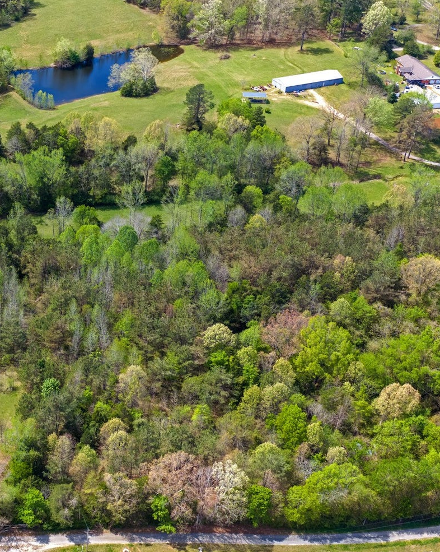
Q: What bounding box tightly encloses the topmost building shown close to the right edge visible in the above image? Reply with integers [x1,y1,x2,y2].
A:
[391,53,440,85]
